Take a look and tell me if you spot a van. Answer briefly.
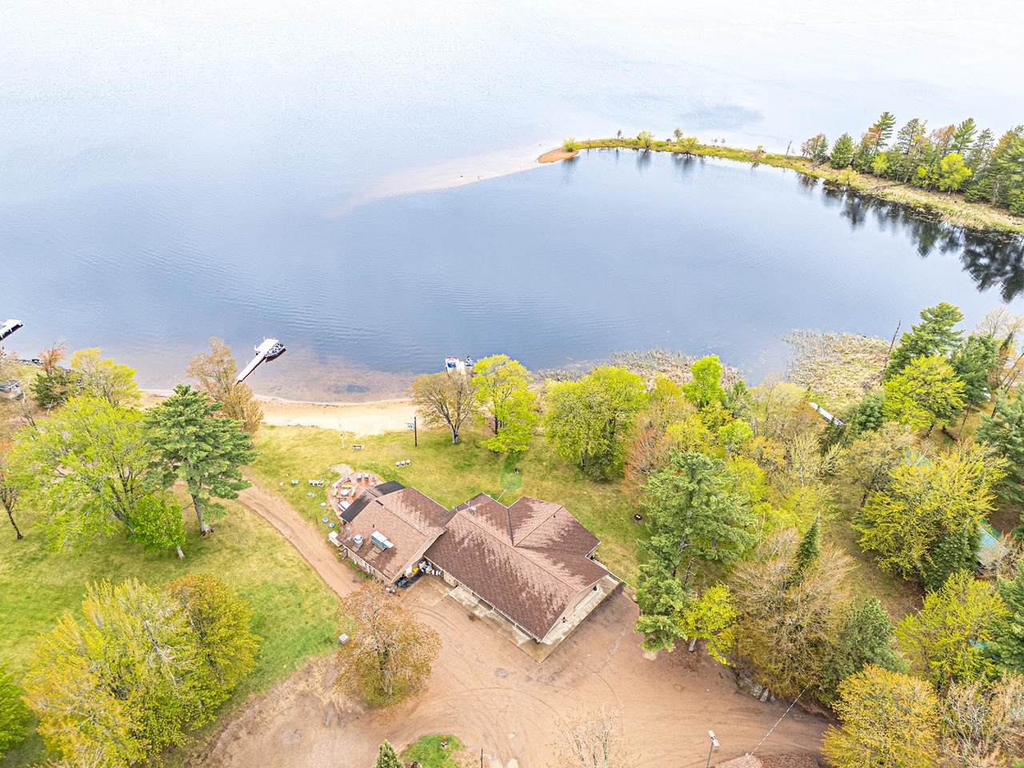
No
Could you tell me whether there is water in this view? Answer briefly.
Yes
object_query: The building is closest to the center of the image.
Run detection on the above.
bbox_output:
[338,479,606,653]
